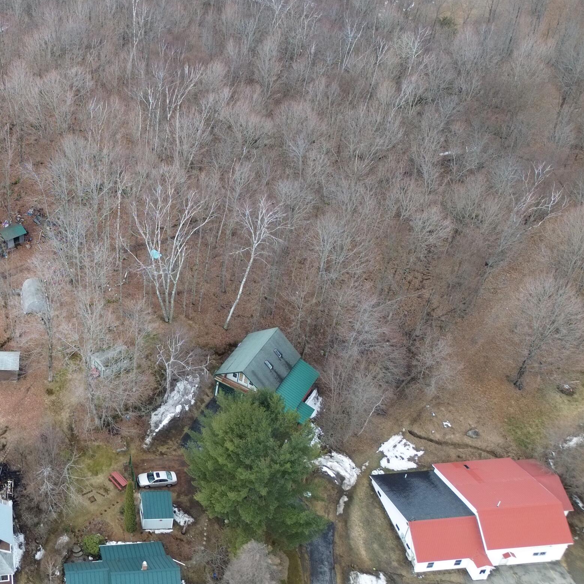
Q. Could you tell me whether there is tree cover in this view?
Yes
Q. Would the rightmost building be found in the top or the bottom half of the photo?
bottom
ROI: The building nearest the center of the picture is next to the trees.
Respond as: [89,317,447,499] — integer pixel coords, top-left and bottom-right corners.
[213,329,319,435]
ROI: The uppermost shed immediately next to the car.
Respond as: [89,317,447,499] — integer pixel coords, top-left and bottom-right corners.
[139,486,176,529]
